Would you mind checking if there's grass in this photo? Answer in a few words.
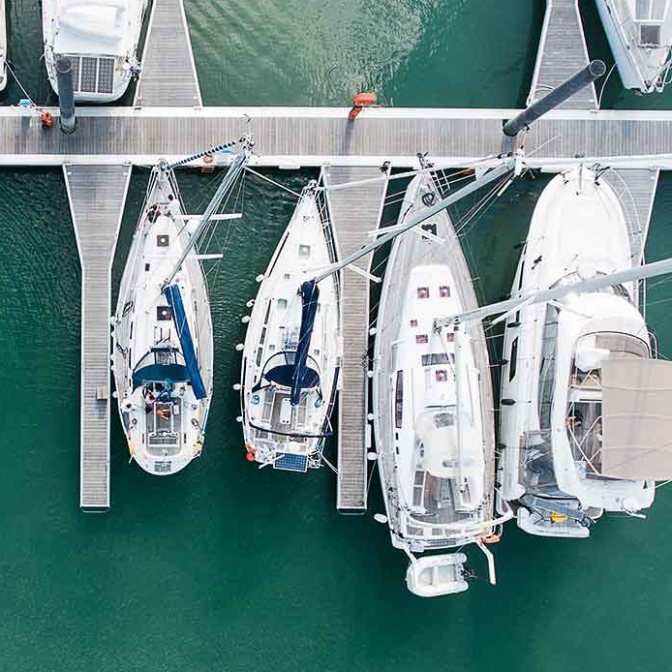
No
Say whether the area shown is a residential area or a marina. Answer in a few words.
marina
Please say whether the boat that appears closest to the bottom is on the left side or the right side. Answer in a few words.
right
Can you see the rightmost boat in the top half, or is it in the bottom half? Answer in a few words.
top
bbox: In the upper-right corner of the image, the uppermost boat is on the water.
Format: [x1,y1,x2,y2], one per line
[588,0,672,101]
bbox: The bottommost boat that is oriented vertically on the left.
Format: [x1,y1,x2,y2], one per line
[112,107,262,476]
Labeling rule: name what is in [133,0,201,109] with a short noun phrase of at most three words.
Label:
pier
